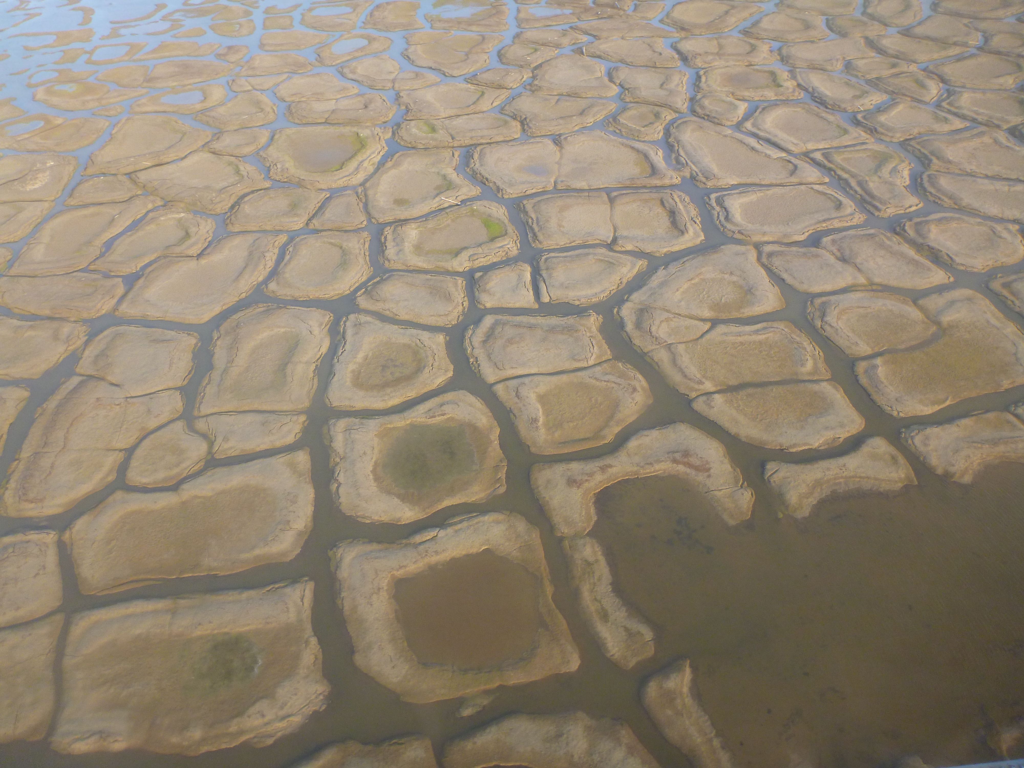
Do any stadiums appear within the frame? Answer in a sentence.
No, no stadium can be seen from above.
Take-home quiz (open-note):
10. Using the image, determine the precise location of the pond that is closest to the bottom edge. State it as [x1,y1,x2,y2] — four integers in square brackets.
[402,556,549,668]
